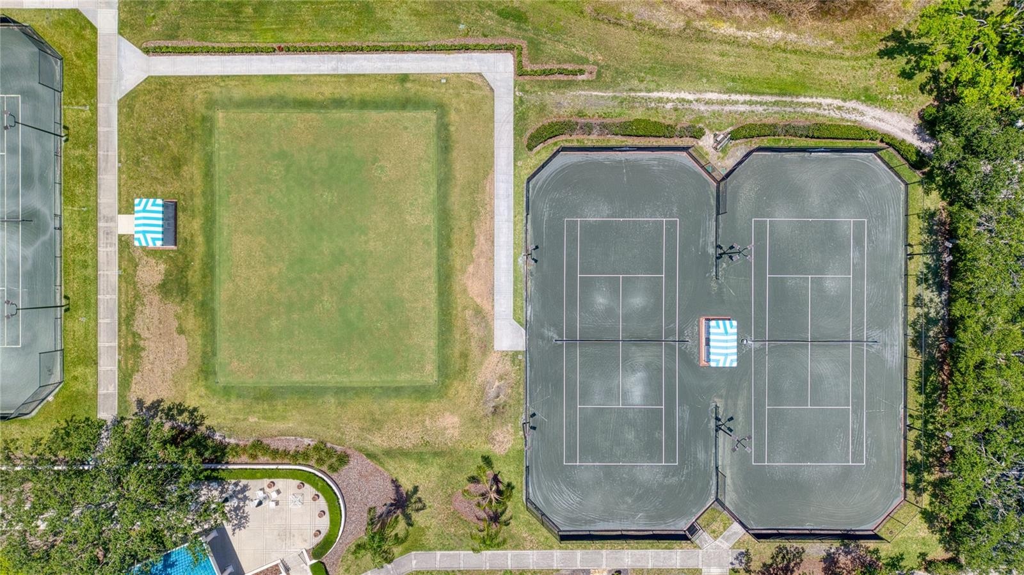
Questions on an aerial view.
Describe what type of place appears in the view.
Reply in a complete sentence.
The area seen from above is a sports ground.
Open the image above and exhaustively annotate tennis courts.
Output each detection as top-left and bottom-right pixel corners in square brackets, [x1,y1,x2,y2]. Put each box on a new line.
[0,26,62,414]
[527,152,716,530]
[717,152,905,531]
